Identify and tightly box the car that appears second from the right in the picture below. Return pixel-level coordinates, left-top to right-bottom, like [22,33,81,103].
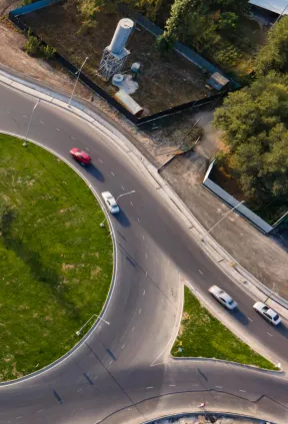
[207,286,238,310]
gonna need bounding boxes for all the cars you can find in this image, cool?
[251,302,283,325]
[207,286,238,310]
[101,192,121,214]
[68,148,92,167]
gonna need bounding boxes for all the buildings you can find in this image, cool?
[205,71,230,94]
[240,0,288,33]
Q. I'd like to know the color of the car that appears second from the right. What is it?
white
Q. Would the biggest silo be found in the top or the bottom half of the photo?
top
